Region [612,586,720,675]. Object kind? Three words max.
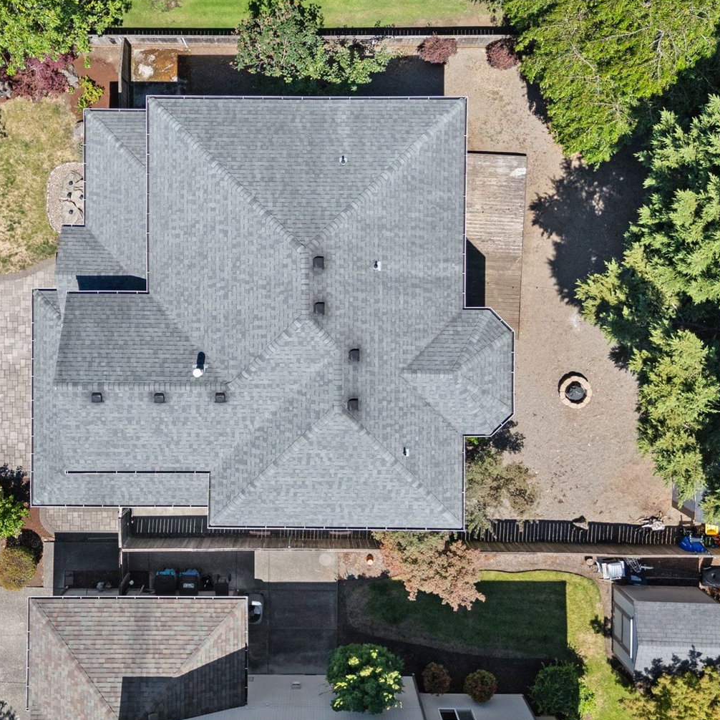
shed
